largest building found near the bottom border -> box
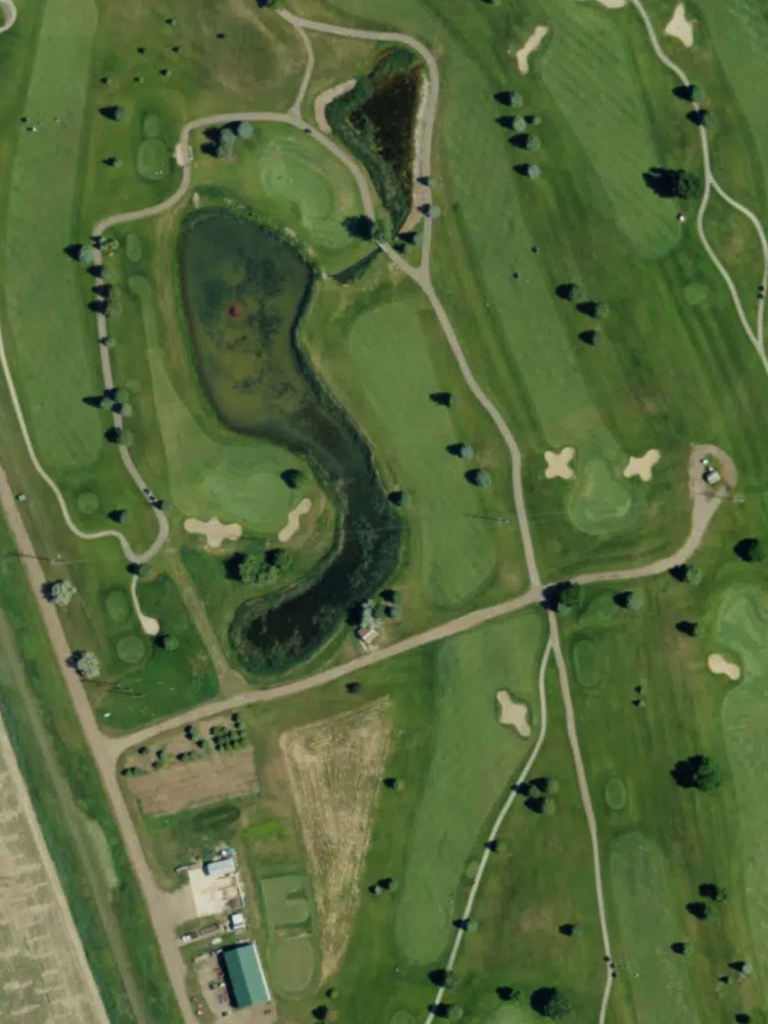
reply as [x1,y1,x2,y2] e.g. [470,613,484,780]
[223,944,268,1008]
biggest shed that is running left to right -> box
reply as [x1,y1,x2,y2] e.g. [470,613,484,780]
[208,859,236,875]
